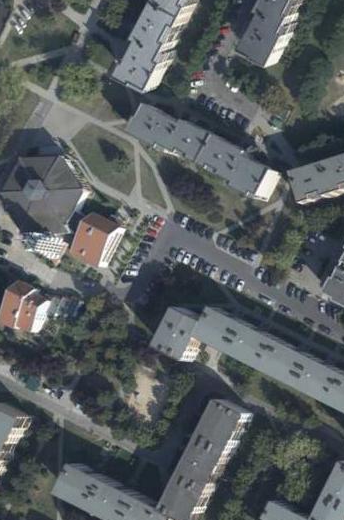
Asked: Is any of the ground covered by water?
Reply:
No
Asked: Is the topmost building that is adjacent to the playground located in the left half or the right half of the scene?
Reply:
right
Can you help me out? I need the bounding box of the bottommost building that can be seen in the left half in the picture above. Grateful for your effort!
[51,461,178,520]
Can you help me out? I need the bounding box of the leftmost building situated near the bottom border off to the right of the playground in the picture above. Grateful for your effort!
[160,398,255,520]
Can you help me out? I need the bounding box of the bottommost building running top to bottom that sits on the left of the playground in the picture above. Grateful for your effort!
[0,399,34,475]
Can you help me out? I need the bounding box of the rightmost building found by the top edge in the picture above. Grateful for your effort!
[236,0,309,71]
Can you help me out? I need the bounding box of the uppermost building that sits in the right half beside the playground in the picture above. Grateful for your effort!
[149,306,344,414]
